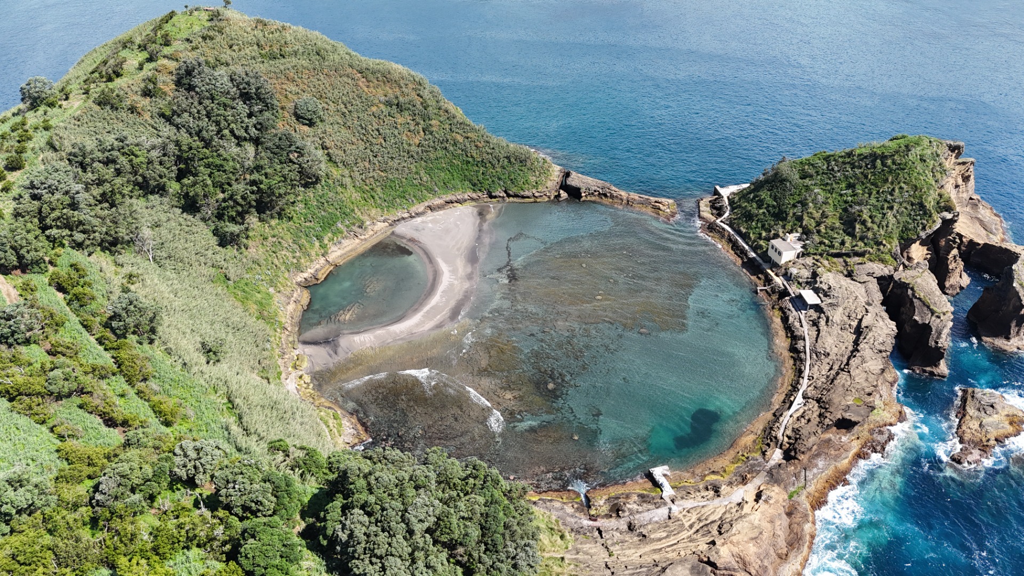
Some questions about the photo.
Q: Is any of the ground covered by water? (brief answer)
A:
Yes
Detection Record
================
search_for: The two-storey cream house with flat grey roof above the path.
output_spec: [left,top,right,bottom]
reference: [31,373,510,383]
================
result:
[767,231,805,265]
